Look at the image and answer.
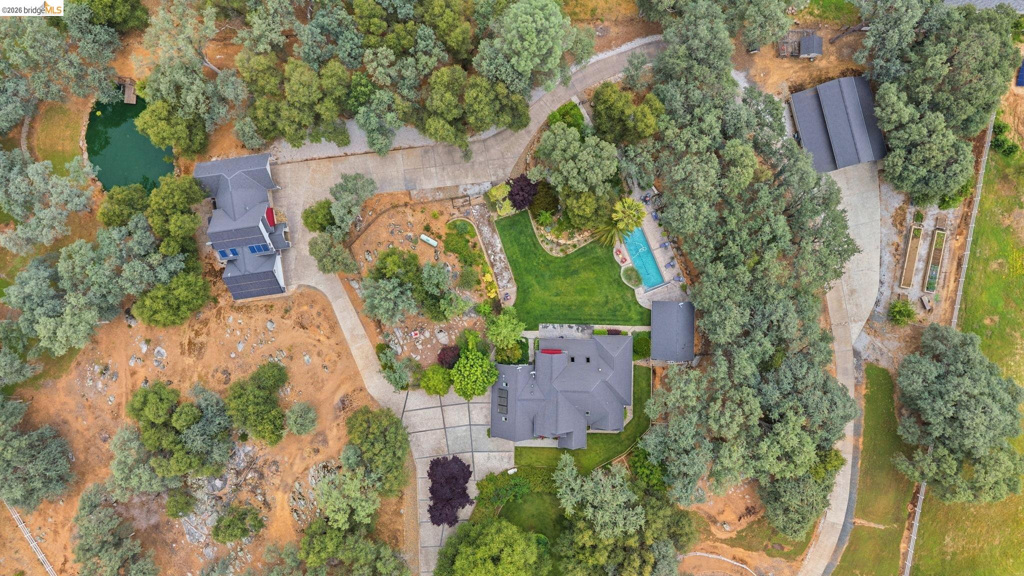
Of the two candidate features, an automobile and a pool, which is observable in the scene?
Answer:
pool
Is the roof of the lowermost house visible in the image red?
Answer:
No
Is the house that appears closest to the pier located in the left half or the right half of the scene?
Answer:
left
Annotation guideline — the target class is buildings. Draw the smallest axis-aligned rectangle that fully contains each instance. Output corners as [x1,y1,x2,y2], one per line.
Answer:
[490,335,632,449]
[194,152,293,300]
[796,35,822,58]
[650,301,695,361]
[787,76,887,174]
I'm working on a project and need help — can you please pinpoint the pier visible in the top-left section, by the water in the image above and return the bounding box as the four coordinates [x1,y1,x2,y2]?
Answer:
[118,77,140,105]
